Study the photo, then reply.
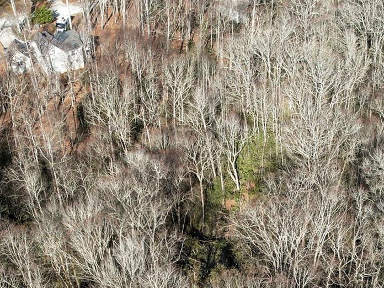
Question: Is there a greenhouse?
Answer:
No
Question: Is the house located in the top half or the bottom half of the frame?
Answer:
top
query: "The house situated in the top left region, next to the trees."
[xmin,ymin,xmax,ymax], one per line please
[8,19,98,78]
